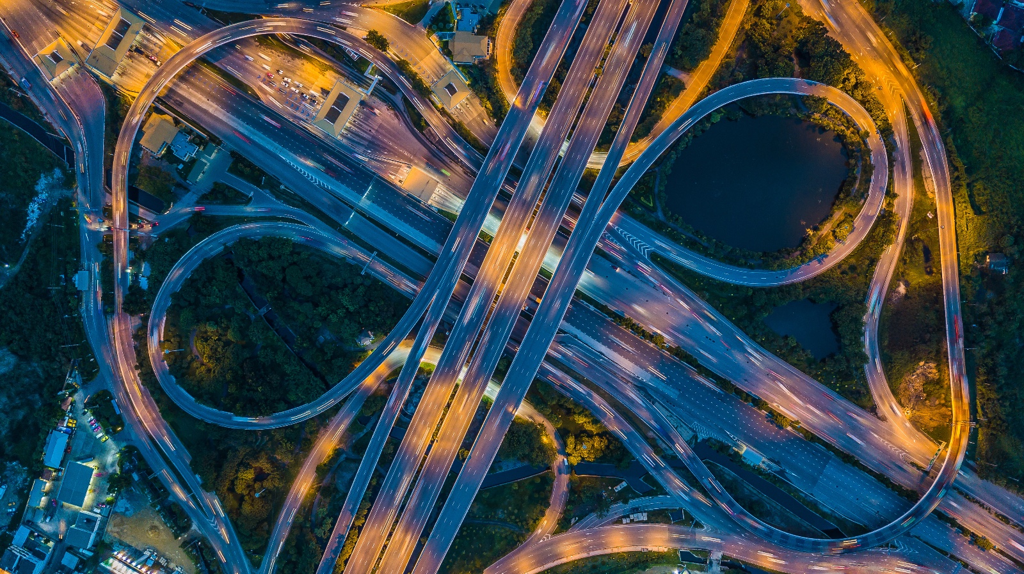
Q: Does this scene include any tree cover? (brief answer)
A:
Yes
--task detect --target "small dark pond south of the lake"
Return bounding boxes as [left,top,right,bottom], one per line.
[767,299,839,359]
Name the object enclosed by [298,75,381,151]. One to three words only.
toll station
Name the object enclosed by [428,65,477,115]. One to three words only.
toll station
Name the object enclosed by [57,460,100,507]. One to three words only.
shed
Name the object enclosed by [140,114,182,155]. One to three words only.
building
